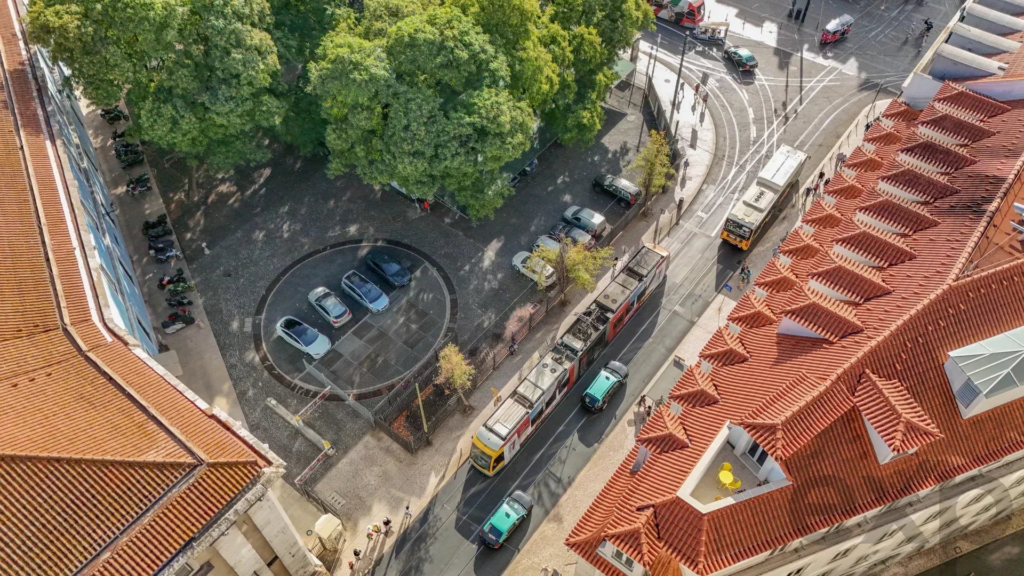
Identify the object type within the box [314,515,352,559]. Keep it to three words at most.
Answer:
building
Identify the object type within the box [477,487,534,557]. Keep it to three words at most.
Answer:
car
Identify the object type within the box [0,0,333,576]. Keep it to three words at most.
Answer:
building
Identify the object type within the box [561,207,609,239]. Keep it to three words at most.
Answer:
van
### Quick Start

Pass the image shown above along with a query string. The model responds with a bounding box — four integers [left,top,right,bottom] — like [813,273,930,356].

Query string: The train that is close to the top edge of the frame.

[644,0,697,28]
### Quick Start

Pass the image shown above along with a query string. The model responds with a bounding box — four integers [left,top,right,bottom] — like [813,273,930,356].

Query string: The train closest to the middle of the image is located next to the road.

[466,251,666,480]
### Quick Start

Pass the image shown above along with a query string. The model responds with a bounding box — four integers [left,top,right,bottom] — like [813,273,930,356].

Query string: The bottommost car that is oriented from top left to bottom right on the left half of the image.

[277,317,329,360]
